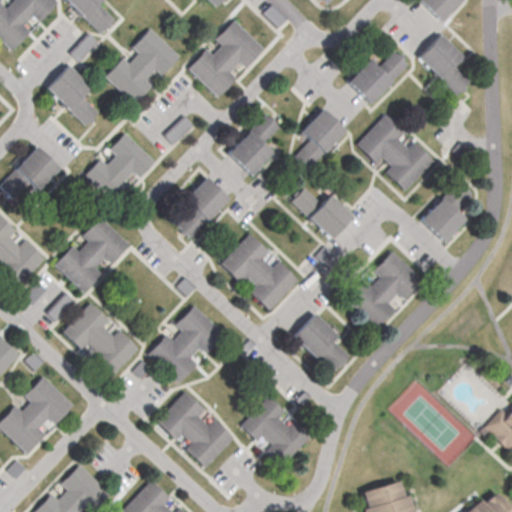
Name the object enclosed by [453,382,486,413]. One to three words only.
swimming pool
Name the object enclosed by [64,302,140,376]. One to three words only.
house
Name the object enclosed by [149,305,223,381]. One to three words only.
house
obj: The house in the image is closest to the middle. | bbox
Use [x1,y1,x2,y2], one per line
[222,234,298,310]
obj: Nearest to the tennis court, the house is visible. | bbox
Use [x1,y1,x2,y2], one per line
[476,408,512,452]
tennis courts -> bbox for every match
[388,380,474,465]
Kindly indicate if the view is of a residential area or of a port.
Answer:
residential area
